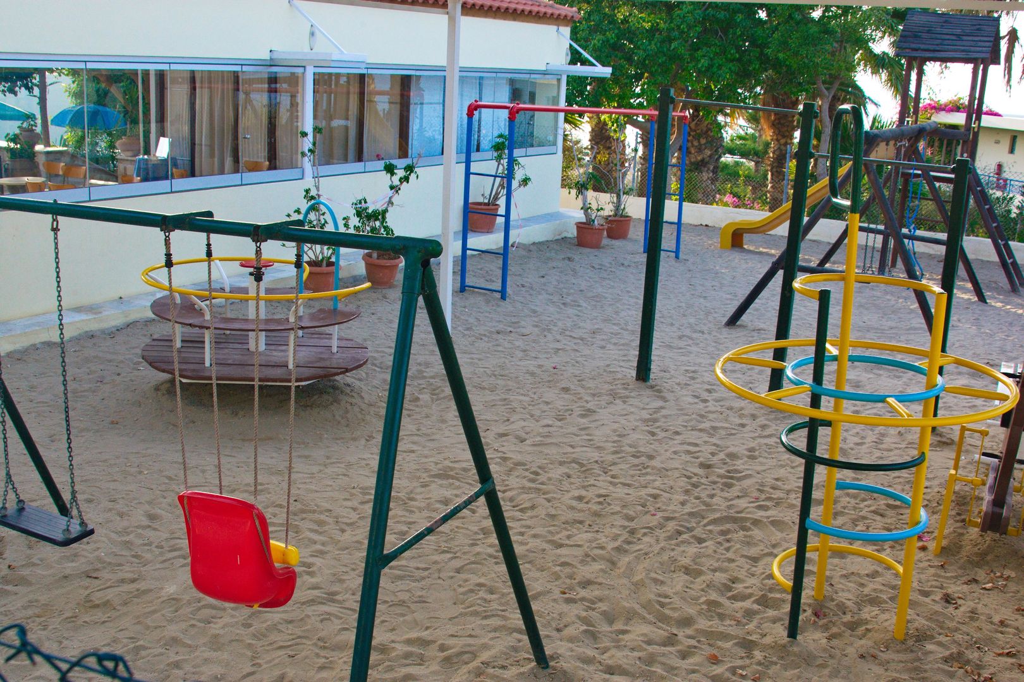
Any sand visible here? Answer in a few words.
Yes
